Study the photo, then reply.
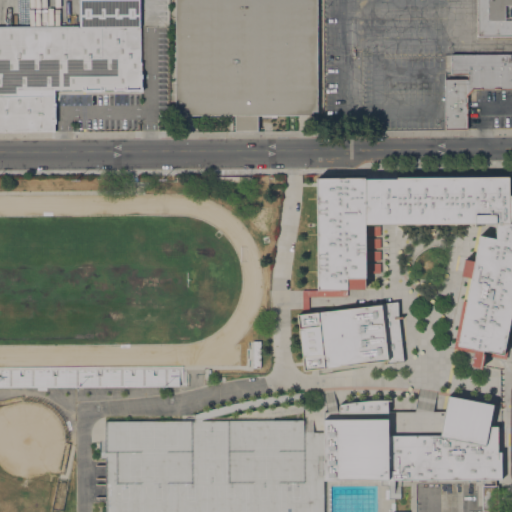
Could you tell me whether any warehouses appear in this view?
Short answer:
Yes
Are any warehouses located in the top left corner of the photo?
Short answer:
Yes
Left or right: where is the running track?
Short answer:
left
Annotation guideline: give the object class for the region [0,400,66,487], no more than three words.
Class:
baseball field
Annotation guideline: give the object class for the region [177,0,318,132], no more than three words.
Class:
warehouse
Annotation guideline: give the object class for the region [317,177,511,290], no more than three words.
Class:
building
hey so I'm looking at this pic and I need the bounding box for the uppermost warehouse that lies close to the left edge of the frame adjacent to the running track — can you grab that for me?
[0,0,141,132]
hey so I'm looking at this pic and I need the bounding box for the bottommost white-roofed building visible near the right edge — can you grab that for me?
[394,426,502,481]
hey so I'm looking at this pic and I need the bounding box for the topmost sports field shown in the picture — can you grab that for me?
[0,216,242,344]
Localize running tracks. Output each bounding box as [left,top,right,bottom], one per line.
[0,196,262,366]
